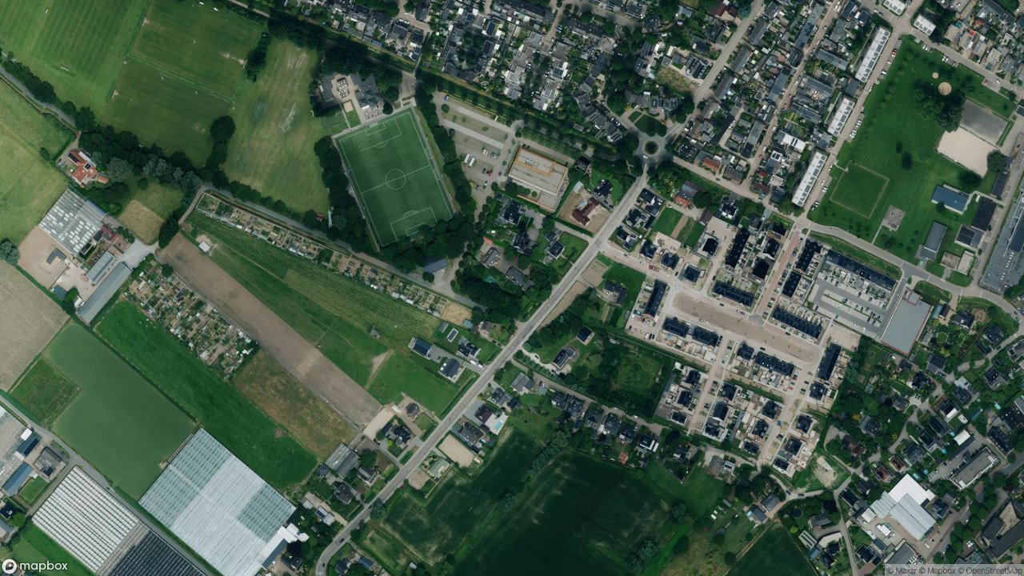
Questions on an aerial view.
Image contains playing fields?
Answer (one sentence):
Yes, the photo shows a playing field.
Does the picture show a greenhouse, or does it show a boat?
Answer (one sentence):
There is a greenhouse in the scene.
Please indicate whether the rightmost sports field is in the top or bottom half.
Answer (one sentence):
The rightmost sports field sits in the top half of the picture.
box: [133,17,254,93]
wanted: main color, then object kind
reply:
green soccer field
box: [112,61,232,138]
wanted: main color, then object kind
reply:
green soccer field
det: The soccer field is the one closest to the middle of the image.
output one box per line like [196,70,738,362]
[334,107,454,248]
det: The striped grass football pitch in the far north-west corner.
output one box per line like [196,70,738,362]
[27,3,128,77]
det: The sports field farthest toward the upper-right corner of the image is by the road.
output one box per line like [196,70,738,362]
[830,161,890,218]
